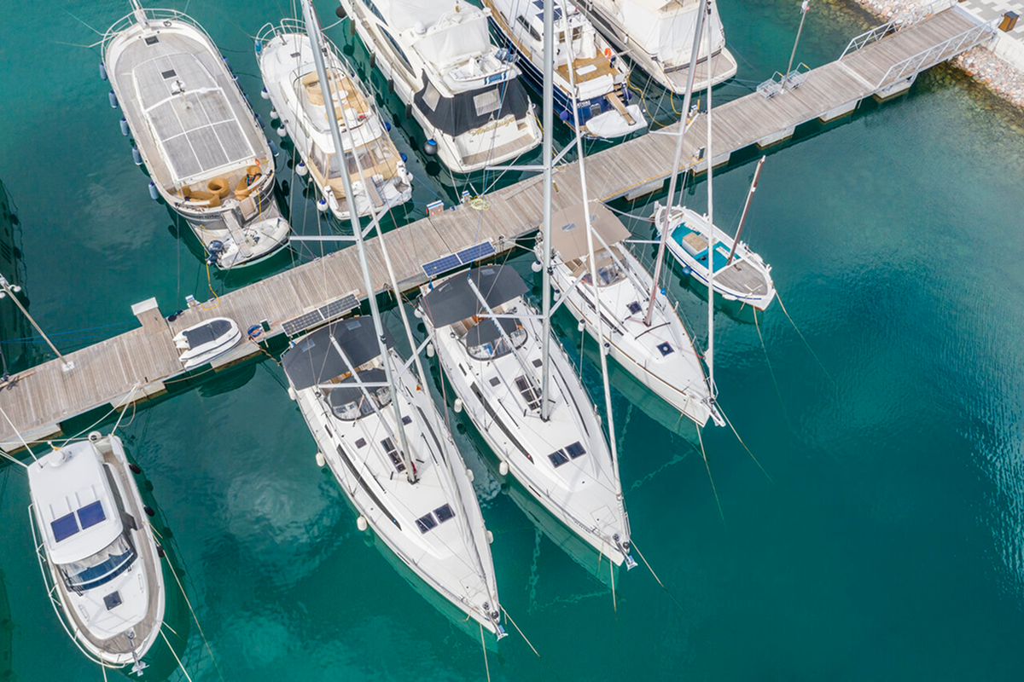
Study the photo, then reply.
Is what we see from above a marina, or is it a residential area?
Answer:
marina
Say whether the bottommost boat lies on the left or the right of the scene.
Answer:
left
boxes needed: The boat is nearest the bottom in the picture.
[28,423,165,682]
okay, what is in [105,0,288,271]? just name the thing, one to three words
boat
